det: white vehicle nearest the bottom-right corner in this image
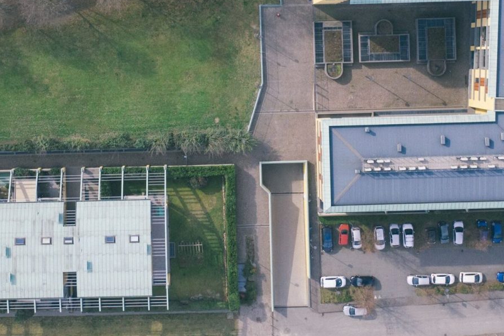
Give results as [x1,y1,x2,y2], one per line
[457,270,483,285]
